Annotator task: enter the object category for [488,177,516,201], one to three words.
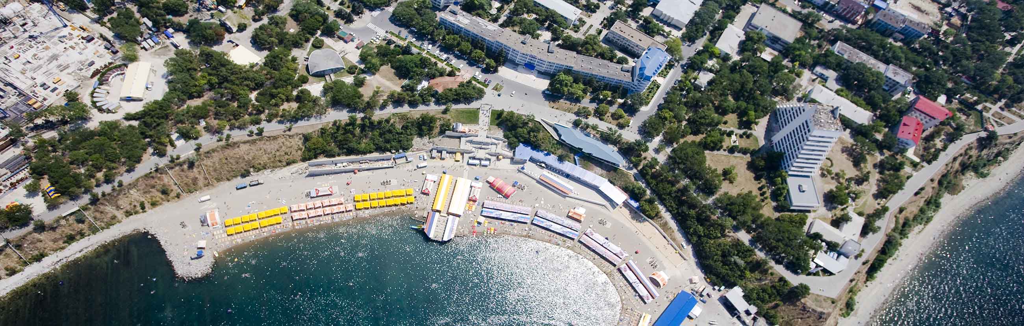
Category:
tent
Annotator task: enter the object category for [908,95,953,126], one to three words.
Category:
house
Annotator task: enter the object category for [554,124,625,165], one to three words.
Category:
building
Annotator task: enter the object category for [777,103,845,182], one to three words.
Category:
building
